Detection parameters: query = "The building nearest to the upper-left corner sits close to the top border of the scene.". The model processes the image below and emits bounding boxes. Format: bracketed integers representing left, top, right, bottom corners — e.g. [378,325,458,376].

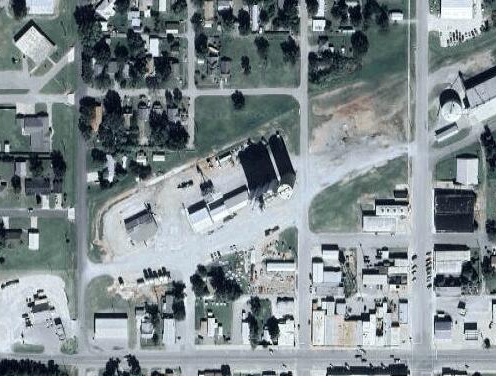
[25,0,53,14]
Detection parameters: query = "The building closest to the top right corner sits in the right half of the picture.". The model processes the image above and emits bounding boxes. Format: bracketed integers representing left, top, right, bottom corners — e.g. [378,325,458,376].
[441,0,474,19]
